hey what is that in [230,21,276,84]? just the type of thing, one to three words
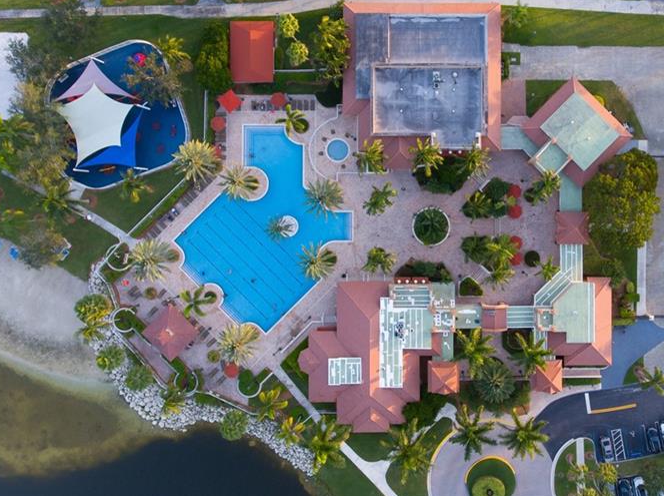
shed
